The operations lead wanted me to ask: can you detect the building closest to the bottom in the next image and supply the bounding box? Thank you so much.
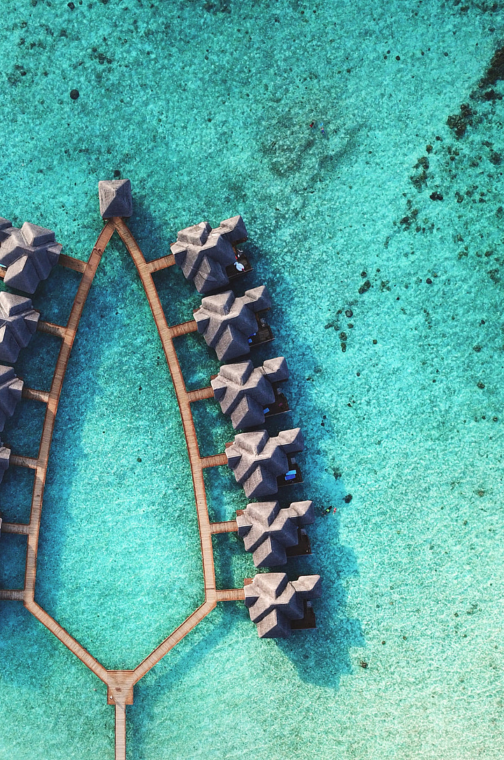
[238,571,320,635]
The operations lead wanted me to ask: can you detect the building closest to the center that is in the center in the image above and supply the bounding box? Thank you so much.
[202,356,289,425]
